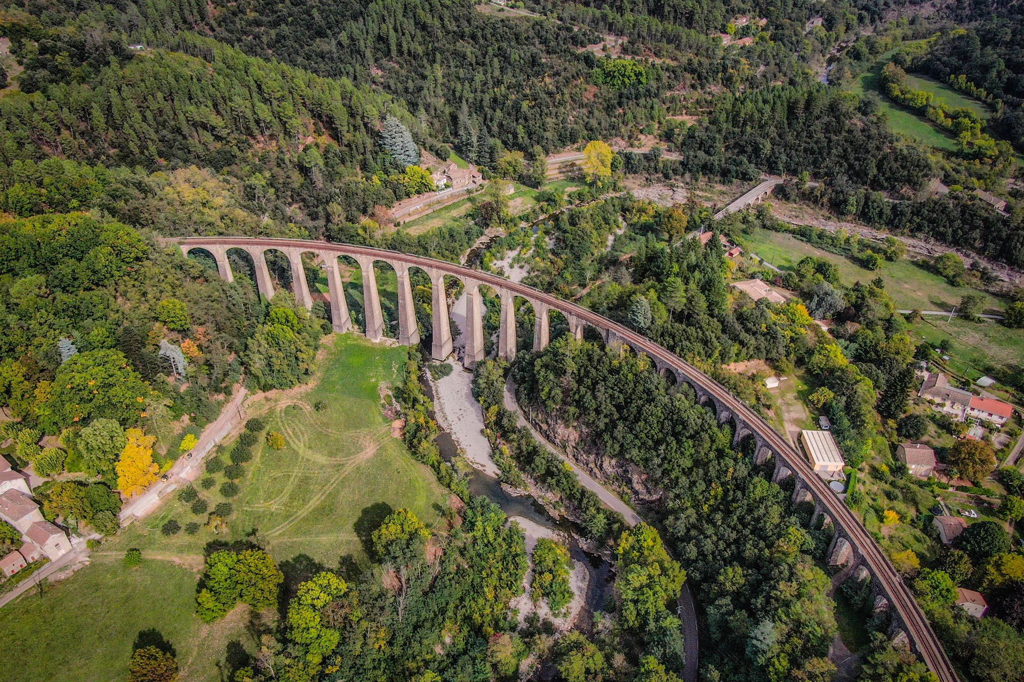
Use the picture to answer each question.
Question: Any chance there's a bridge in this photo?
Yes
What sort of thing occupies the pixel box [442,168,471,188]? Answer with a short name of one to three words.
house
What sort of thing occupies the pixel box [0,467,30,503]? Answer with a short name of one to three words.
house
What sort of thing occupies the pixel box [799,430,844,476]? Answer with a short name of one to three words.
building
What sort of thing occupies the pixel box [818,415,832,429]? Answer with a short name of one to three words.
vehicle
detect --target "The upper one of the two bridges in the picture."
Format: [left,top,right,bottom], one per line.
[707,178,786,225]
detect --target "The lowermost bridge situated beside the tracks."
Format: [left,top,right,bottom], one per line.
[159,238,963,682]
